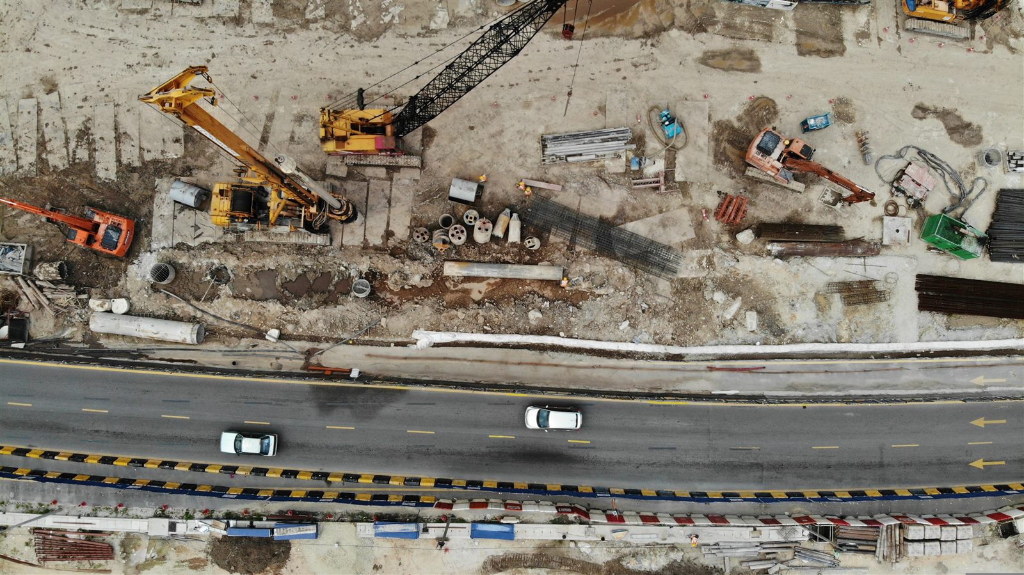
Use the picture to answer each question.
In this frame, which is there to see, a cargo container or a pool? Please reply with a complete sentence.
Visible in the photo is a cargo container.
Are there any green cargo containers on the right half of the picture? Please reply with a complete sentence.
Yes, I can see a green cargo container on the right half of the picture.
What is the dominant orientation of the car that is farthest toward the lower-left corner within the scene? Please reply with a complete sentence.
The car that is farthest toward the lower-left corner is laid out from left to right.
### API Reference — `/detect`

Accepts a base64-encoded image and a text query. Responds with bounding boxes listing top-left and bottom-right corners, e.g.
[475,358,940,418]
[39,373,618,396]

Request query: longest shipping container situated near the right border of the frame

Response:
[921,213,987,259]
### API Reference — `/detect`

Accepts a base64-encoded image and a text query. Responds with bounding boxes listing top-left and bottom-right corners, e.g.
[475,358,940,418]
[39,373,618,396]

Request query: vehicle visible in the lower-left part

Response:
[218,431,277,459]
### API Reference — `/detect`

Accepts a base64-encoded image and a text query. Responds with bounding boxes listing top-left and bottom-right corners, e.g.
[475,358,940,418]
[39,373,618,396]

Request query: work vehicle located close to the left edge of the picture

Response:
[0,196,143,260]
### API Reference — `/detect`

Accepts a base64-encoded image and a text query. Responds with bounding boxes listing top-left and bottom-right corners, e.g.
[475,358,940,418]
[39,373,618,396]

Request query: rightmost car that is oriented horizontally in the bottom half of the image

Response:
[524,404,583,433]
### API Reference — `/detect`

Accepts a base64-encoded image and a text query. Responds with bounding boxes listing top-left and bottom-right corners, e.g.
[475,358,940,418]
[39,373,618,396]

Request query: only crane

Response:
[319,0,591,171]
